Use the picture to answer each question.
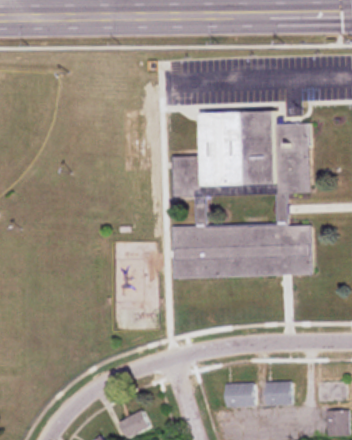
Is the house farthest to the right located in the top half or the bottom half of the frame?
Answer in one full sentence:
The bottom half of the photo is where the house farthest to the right is.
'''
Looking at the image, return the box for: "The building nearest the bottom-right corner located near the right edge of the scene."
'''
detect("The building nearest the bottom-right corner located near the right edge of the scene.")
[328,412,352,438]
